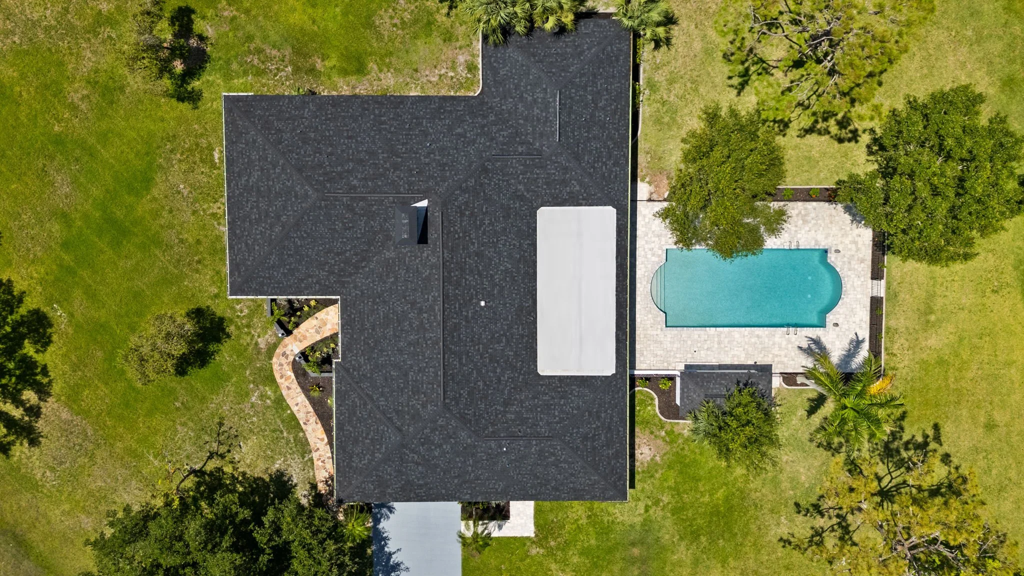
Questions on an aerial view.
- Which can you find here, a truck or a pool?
pool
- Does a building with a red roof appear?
No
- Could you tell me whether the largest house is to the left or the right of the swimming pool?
left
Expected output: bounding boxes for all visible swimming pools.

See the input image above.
[644,242,850,335]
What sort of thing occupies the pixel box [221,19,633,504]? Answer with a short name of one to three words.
house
